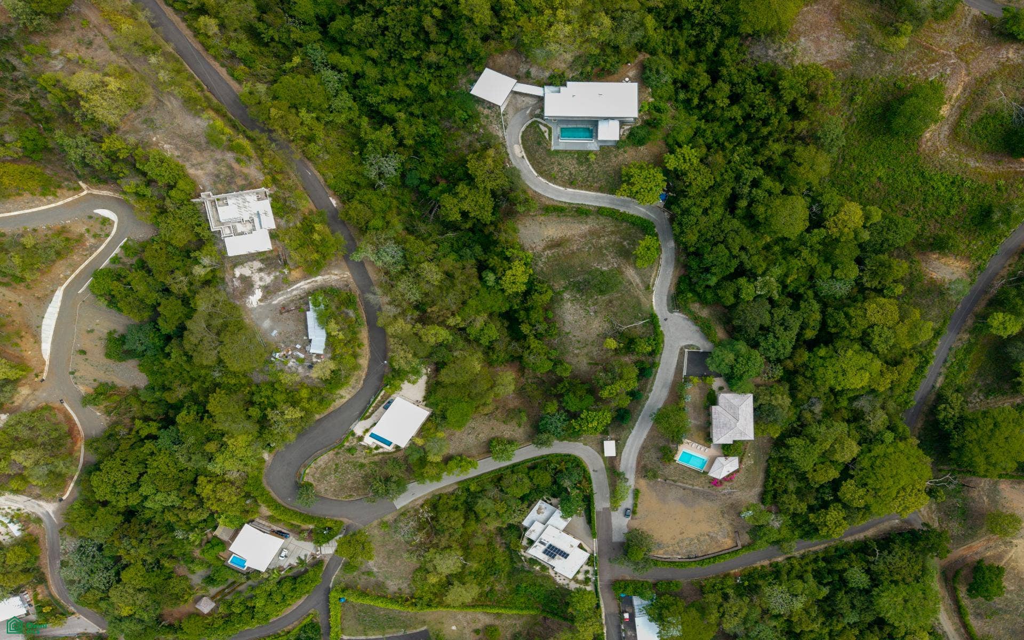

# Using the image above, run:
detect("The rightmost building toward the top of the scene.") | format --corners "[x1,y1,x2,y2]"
[544,82,638,141]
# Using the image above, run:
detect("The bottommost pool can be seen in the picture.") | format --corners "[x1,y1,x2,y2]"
[229,554,248,570]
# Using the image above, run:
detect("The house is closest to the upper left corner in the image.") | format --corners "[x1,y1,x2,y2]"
[193,187,278,256]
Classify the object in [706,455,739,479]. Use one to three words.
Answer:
building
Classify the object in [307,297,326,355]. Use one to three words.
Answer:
shed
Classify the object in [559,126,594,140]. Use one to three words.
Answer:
swimming pool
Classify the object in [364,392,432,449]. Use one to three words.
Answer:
house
